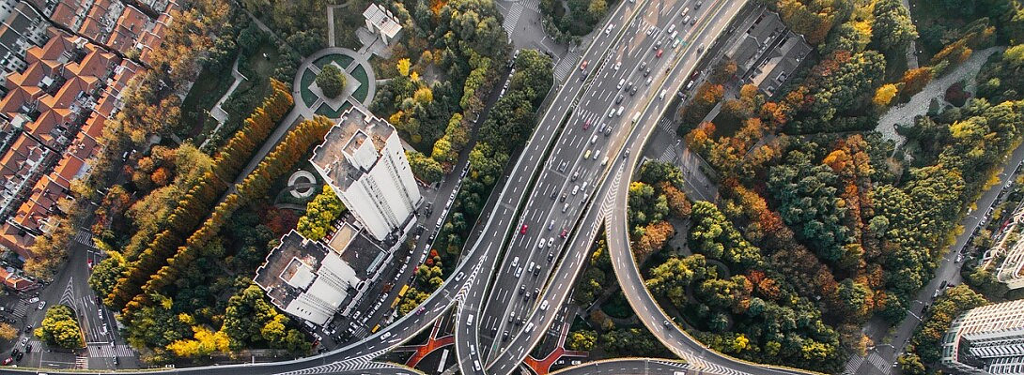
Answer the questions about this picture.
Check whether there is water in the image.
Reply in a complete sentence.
No, no water is visible.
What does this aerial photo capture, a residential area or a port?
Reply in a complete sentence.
This looks like a residential area.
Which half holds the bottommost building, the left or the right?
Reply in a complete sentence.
You can find the bottommost building on the right side of the picture.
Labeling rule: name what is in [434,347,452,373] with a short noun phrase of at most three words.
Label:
vehicle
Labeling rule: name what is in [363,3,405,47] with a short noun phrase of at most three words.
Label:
building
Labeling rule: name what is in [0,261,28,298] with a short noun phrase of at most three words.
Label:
house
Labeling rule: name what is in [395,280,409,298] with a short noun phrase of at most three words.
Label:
vehicle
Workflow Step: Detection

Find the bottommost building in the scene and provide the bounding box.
[942,297,1024,375]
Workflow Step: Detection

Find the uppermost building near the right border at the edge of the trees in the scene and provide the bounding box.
[991,226,1024,289]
